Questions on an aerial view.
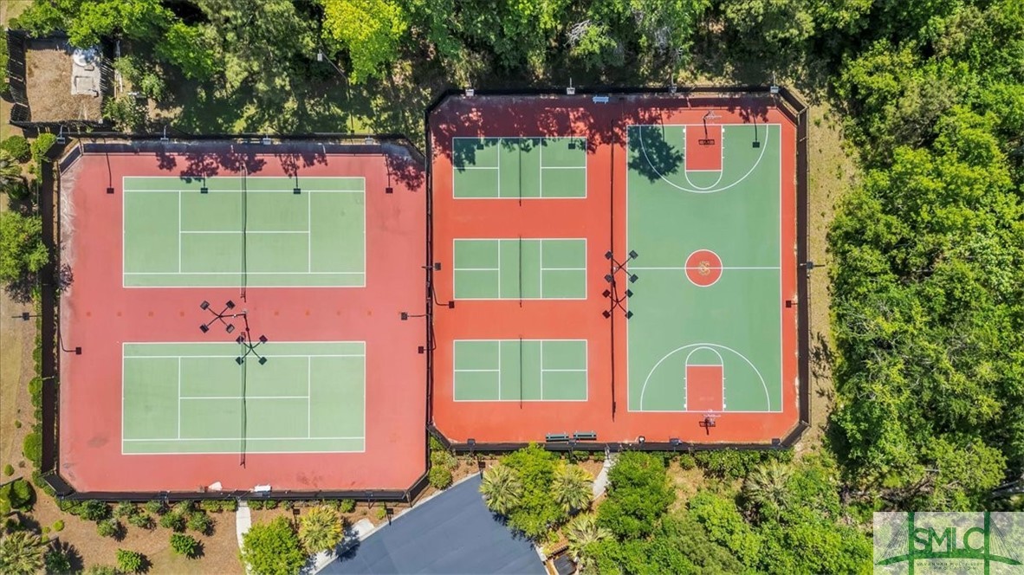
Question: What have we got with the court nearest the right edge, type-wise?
basketball court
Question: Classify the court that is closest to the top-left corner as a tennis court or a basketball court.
tennis court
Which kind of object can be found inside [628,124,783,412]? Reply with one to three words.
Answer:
basketball court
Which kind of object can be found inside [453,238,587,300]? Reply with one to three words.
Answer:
sports court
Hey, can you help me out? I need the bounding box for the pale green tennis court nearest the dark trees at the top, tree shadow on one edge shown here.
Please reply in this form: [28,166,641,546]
[122,177,365,288]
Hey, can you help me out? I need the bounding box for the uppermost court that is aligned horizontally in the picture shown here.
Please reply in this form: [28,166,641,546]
[452,137,587,199]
